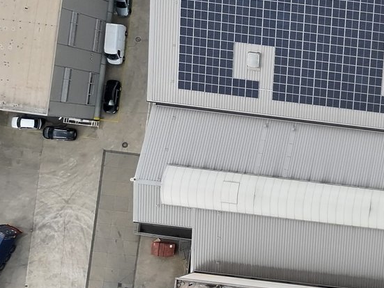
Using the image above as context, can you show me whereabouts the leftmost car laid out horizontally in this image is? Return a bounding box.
[11,115,44,130]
